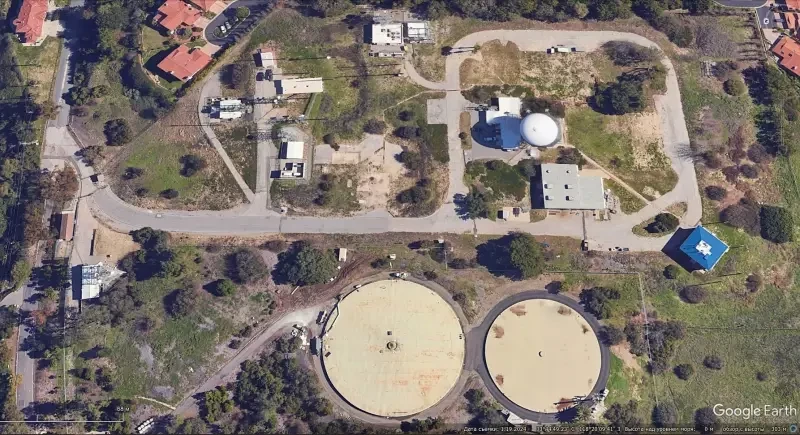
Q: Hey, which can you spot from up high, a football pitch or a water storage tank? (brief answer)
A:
water storage tank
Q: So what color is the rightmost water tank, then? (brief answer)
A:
white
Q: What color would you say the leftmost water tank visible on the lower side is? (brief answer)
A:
white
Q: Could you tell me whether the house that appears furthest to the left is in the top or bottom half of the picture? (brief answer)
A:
top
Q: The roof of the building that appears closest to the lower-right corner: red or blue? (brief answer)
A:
blue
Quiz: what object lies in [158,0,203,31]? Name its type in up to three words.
house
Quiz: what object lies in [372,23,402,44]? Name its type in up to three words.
building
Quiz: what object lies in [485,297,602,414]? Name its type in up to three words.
water tank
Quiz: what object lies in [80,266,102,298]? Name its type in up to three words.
building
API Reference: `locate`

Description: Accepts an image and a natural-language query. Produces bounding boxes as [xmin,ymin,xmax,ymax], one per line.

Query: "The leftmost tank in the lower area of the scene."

[323,278,463,418]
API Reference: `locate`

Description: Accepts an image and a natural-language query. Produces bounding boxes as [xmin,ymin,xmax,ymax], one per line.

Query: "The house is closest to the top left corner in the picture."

[11,0,46,43]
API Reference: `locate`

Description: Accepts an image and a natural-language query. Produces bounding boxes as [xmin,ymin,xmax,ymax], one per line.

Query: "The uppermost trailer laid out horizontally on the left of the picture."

[281,77,323,94]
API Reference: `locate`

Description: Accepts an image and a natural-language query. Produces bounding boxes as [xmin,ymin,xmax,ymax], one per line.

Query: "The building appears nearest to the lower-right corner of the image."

[679,224,730,271]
